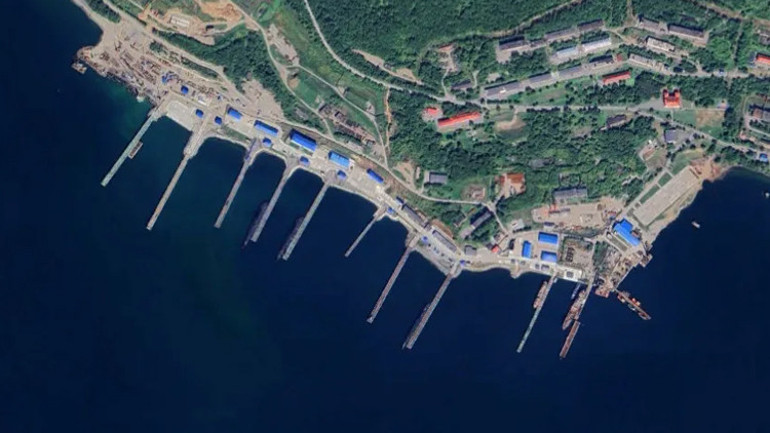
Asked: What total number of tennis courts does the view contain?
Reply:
0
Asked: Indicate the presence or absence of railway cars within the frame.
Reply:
No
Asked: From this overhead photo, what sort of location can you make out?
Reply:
port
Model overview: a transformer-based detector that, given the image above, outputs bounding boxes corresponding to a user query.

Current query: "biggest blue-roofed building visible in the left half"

[288,128,318,150]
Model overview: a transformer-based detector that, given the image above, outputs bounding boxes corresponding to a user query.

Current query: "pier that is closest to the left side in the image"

[102,113,156,186]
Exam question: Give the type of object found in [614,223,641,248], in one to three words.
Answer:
building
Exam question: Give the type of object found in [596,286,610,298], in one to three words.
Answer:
ship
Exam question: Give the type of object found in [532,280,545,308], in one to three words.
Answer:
ship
